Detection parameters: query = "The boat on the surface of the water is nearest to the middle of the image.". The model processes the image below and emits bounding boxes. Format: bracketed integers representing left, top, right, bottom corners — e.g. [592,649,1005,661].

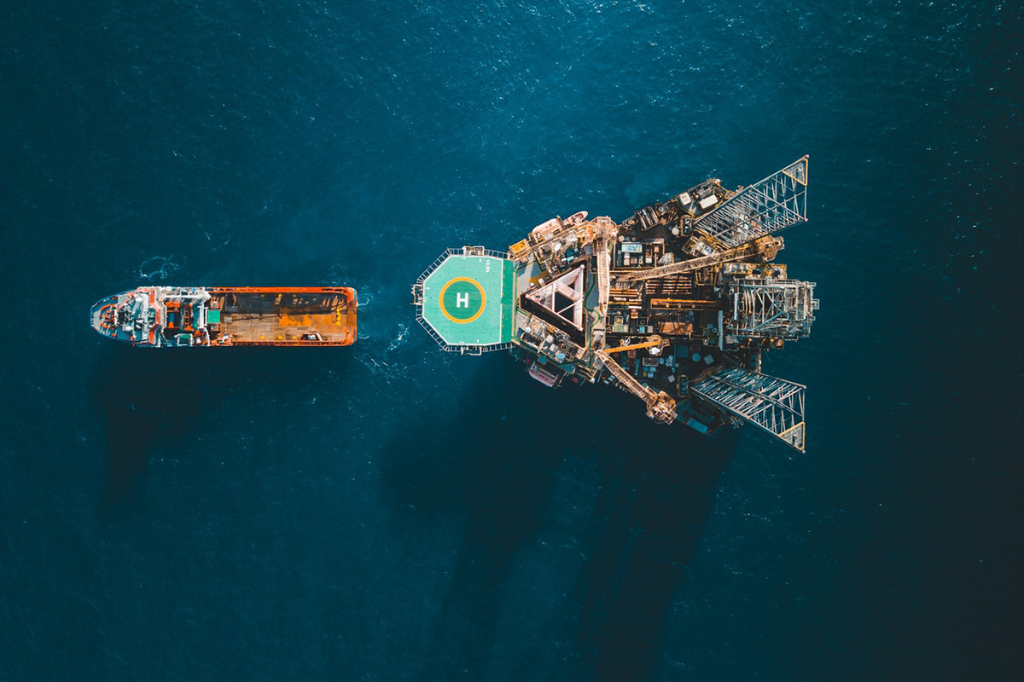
[530,370,555,386]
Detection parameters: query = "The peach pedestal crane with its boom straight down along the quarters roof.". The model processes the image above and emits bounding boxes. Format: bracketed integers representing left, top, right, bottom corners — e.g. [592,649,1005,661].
[593,214,613,321]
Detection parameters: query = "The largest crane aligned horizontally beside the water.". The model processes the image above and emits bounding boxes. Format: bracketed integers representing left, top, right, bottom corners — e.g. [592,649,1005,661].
[617,235,783,285]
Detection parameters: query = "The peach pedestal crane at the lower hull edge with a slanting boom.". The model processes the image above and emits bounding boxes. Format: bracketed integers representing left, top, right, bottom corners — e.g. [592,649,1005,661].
[593,348,681,424]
